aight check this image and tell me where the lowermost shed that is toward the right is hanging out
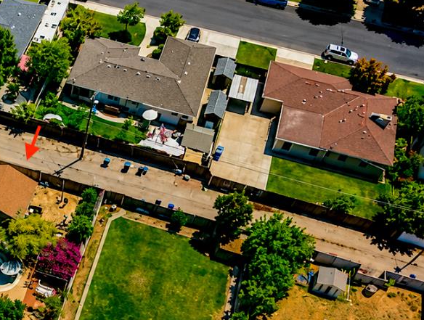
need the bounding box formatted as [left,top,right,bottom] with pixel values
[310,266,347,302]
